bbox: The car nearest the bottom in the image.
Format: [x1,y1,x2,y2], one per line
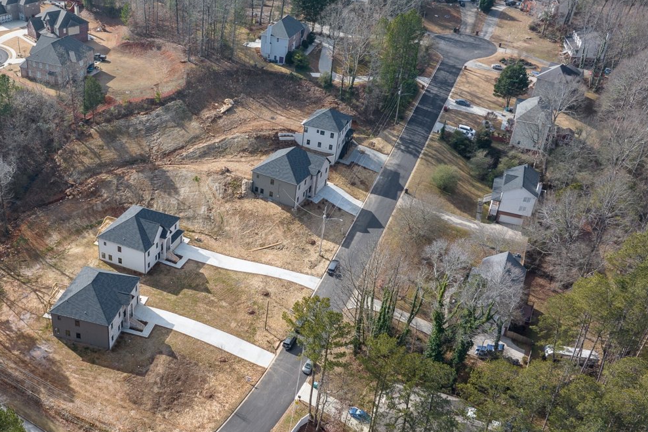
[348,406,371,422]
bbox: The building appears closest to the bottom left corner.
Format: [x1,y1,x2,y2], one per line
[49,267,155,349]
